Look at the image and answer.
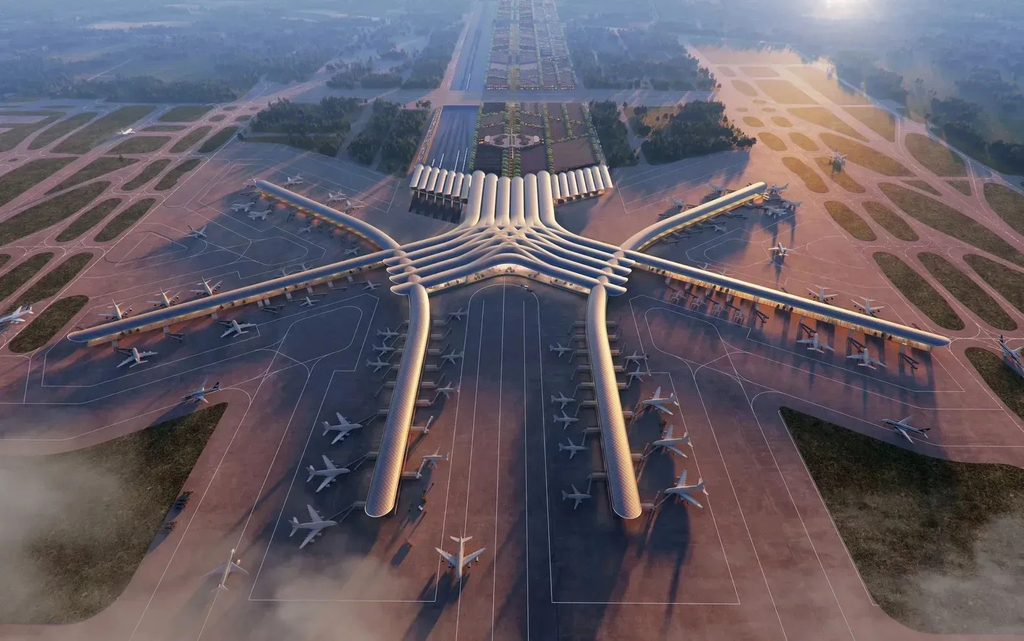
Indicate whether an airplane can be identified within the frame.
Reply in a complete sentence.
Yes, the photo shows an airplane.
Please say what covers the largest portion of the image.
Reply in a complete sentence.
What you mostly see from above here is paved ground.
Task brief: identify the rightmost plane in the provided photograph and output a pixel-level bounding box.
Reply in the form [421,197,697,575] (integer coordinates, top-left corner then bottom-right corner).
[991,339,1024,367]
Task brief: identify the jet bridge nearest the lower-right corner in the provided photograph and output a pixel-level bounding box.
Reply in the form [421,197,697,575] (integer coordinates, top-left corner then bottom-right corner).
[901,342,920,367]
